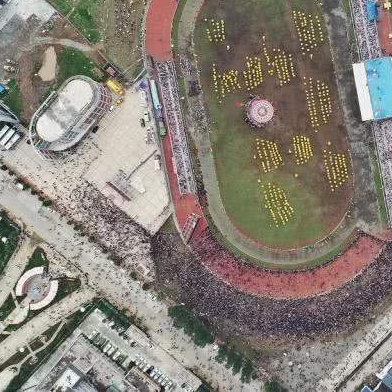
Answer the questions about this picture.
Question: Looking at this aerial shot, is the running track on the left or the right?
right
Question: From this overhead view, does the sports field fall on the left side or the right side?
right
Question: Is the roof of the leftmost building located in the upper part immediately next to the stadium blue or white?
white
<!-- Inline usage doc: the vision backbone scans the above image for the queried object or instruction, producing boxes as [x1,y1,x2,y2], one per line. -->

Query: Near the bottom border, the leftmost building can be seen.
[25,328,132,392]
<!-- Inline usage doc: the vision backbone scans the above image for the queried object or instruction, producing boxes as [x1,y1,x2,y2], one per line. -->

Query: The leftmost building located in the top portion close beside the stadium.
[30,73,114,155]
